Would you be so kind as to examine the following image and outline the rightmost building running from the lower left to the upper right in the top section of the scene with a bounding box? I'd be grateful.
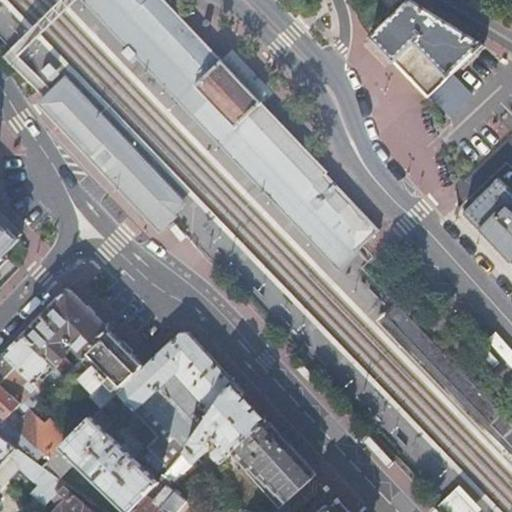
[464,177,508,226]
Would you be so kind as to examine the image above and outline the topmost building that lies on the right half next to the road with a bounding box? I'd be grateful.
[366,0,485,98]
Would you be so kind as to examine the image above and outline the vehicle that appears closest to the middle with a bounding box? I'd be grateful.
[148,241,166,258]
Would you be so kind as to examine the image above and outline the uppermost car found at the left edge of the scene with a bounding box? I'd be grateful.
[24,119,42,138]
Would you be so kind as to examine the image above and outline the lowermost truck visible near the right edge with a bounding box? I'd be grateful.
[488,336,512,368]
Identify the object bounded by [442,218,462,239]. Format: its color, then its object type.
gray car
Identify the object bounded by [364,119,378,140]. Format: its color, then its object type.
white car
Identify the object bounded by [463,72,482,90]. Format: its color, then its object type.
white car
